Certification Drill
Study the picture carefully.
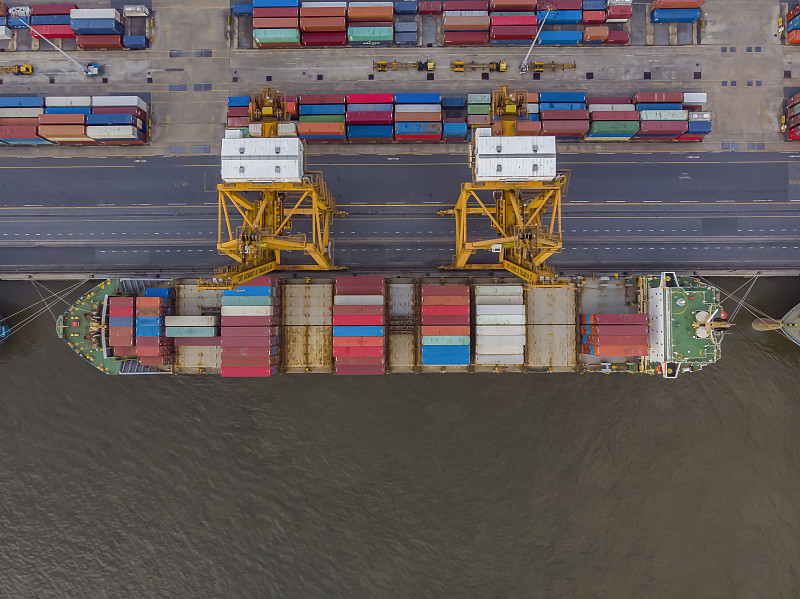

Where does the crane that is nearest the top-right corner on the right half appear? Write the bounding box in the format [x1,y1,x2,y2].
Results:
[438,87,576,291]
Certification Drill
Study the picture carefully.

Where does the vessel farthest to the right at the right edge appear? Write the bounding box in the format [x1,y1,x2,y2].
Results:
[752,298,800,341]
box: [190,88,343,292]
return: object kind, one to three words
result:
container crane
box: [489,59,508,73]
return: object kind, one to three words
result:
vehicle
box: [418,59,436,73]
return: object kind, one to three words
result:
vehicle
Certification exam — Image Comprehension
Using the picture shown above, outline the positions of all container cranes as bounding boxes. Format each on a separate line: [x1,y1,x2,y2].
[438,87,576,291]
[190,88,343,292]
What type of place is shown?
port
